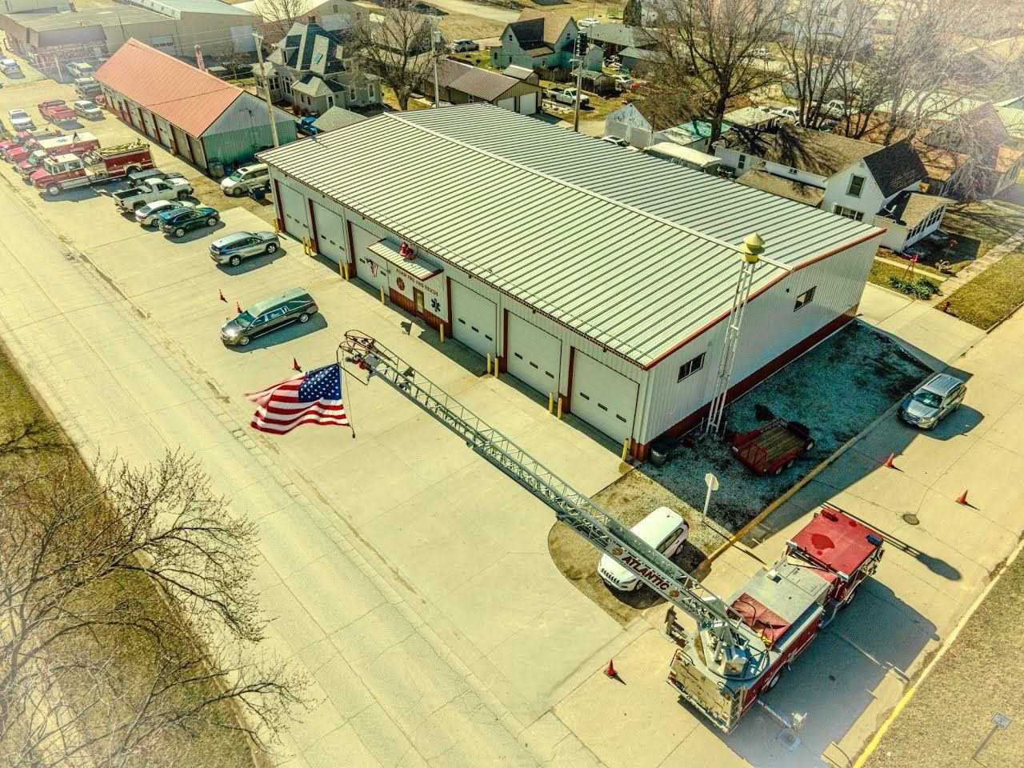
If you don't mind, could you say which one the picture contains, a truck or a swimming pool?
truck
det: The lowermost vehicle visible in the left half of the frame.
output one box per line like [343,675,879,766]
[216,281,327,346]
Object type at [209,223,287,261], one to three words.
car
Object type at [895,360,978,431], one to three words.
car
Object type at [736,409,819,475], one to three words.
trailer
